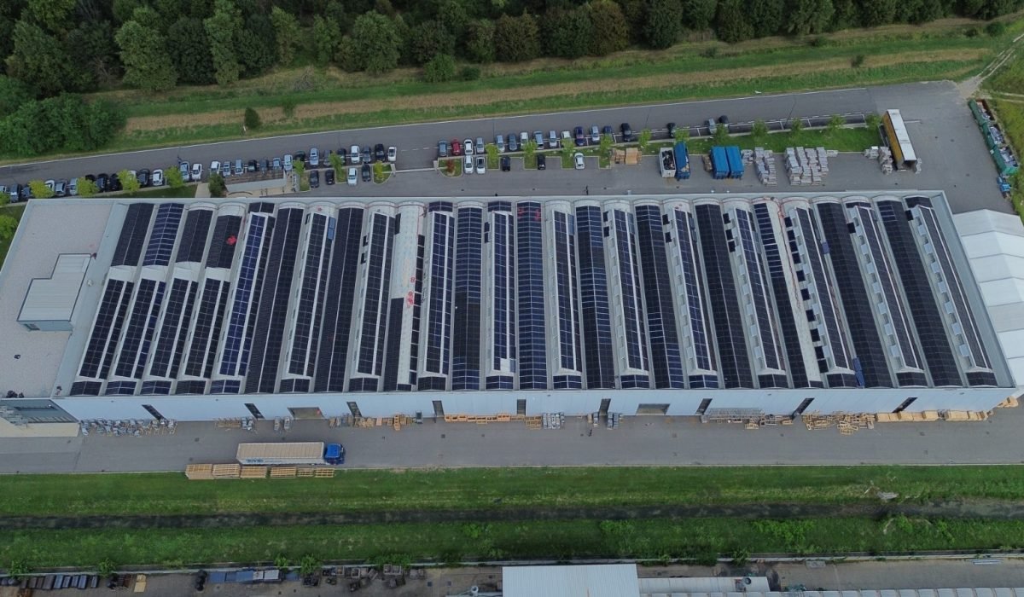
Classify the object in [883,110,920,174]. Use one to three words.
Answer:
trailer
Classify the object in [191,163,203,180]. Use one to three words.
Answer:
vehicle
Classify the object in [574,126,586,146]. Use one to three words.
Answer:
vehicle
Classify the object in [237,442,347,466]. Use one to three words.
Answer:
truck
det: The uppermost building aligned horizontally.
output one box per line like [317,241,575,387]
[0,190,1016,422]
